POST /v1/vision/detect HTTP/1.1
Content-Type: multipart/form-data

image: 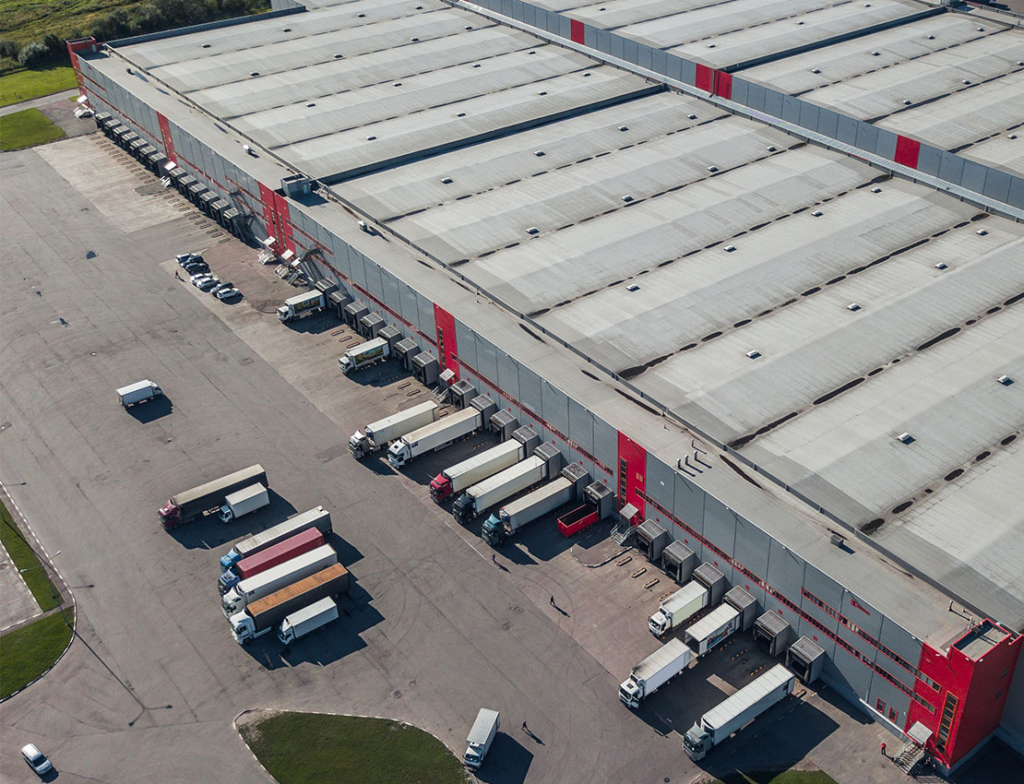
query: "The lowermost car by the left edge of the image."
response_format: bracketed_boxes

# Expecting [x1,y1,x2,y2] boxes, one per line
[22,741,51,775]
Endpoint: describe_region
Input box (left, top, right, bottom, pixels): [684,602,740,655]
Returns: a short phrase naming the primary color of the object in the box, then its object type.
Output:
white trailer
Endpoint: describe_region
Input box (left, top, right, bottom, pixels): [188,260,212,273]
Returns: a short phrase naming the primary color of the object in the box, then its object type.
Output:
black vehicle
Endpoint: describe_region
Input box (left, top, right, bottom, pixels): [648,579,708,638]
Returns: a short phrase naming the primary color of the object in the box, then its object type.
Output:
white truck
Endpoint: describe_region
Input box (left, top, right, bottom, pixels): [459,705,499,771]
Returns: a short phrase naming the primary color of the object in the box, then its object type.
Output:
white truck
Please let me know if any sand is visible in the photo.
No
